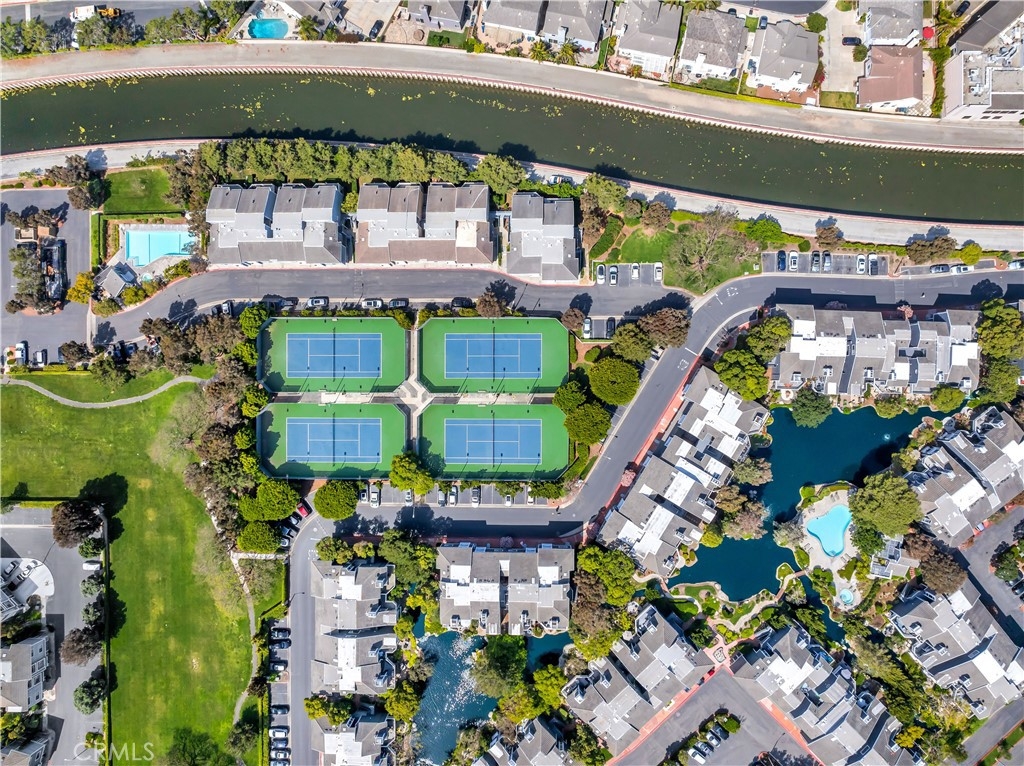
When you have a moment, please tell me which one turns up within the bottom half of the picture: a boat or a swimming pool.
swimming pool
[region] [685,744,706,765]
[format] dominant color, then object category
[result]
white vehicle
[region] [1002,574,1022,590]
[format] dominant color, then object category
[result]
gray car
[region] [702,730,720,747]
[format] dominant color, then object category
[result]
white car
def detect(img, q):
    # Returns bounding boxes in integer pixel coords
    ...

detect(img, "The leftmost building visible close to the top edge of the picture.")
[277,0,349,36]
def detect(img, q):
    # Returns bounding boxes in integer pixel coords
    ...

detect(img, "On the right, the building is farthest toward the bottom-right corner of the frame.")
[883,576,1024,720]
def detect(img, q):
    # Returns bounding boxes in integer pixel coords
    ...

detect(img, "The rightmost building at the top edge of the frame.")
[938,0,1024,121]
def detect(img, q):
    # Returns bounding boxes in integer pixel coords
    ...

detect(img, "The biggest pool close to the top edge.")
[248,18,288,37]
